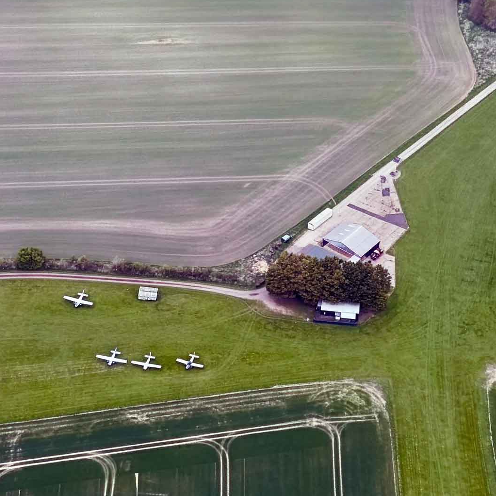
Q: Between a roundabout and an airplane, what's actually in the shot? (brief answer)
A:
airplane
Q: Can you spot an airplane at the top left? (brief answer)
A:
No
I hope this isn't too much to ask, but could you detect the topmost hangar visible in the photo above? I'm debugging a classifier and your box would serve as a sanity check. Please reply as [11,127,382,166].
[322,222,380,262]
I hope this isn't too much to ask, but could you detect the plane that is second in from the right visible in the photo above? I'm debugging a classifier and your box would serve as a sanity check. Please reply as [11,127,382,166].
[131,353,161,372]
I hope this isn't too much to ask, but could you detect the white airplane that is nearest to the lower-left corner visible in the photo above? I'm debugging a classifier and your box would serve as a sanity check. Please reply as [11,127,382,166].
[96,348,128,367]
